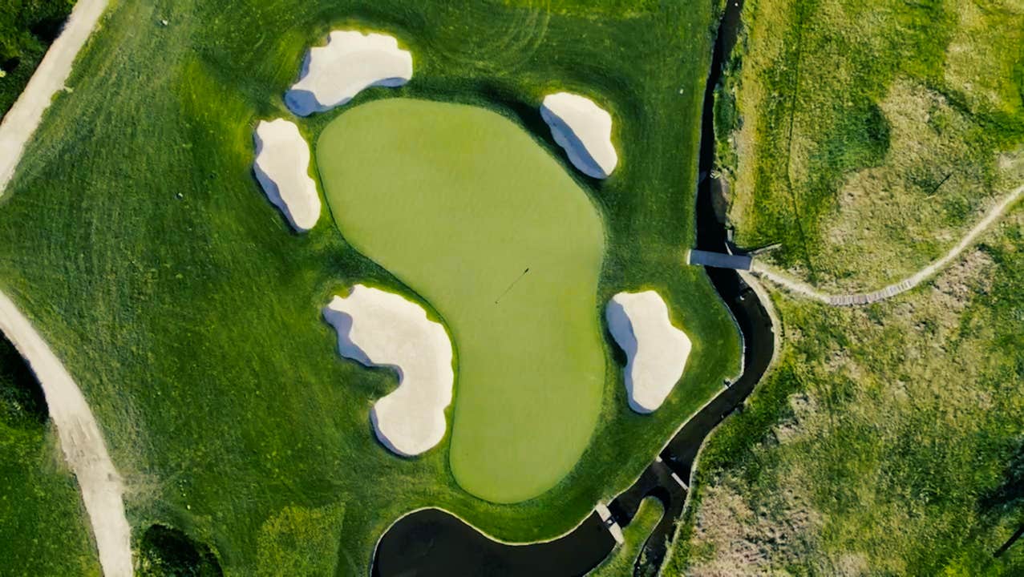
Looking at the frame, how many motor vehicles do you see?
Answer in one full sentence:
Not a single motor vehicle can be seen.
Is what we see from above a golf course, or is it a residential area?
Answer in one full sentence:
What you see here is a golf course.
